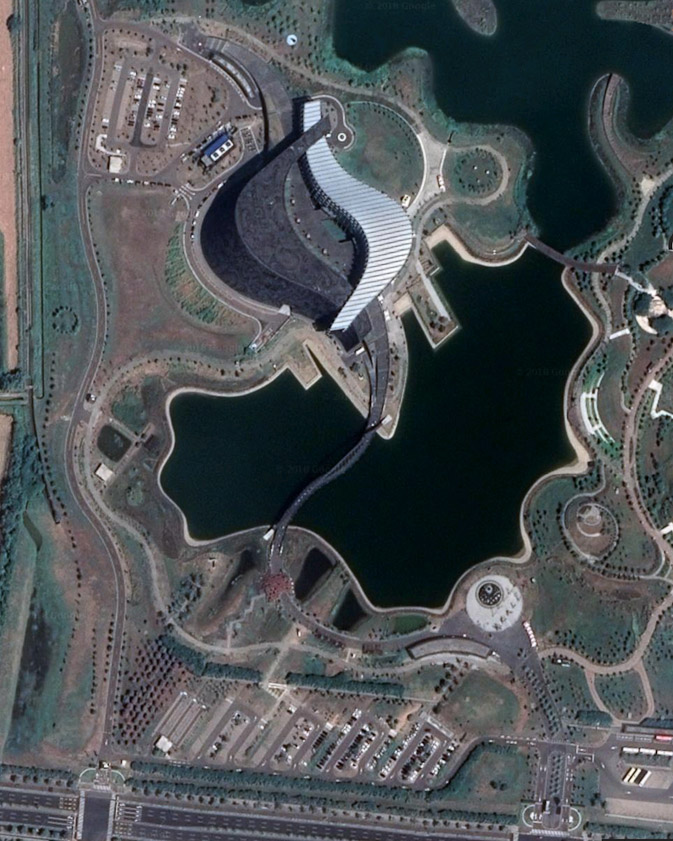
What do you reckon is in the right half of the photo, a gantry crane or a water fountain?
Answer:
water fountain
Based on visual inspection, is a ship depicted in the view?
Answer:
No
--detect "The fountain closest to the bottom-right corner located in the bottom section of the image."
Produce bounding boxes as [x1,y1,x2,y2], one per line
[476,579,505,608]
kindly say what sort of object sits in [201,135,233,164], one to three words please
building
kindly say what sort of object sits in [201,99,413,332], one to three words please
building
